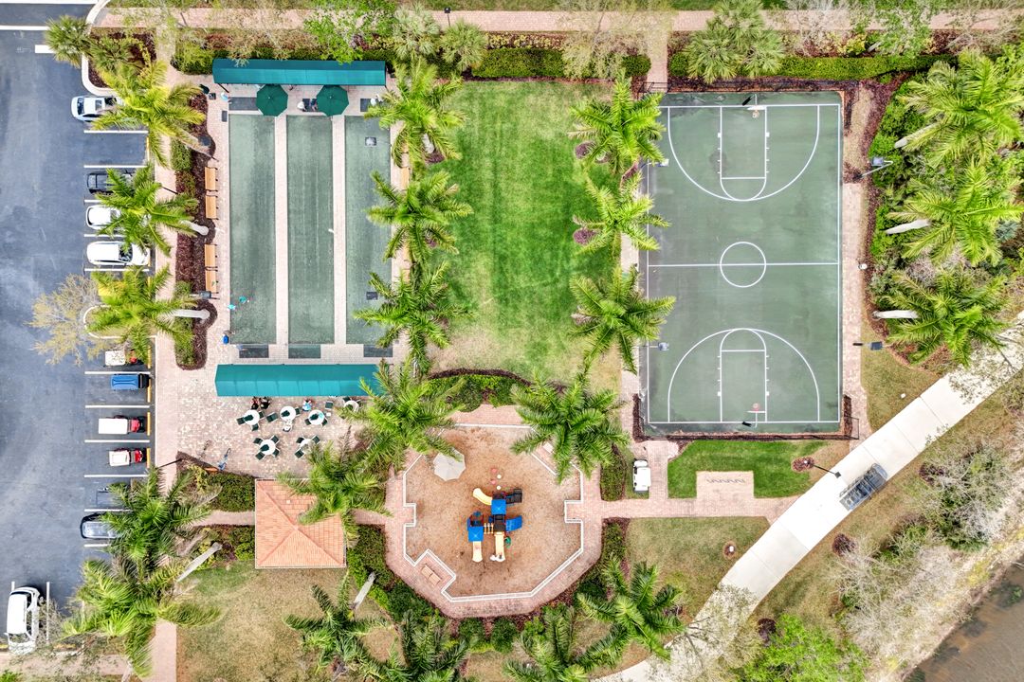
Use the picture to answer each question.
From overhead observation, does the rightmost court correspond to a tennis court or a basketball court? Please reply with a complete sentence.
In the photo, the rightmost court shows up as a basketball court.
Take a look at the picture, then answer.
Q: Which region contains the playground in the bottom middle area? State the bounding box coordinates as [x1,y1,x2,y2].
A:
[401,423,584,604]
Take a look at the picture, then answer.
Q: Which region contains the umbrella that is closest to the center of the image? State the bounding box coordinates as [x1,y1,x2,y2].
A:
[435,449,466,480]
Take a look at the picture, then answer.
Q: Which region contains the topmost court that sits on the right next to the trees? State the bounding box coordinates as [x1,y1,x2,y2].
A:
[638,92,843,437]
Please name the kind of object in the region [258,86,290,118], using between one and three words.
umbrella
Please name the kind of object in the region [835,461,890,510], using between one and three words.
car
